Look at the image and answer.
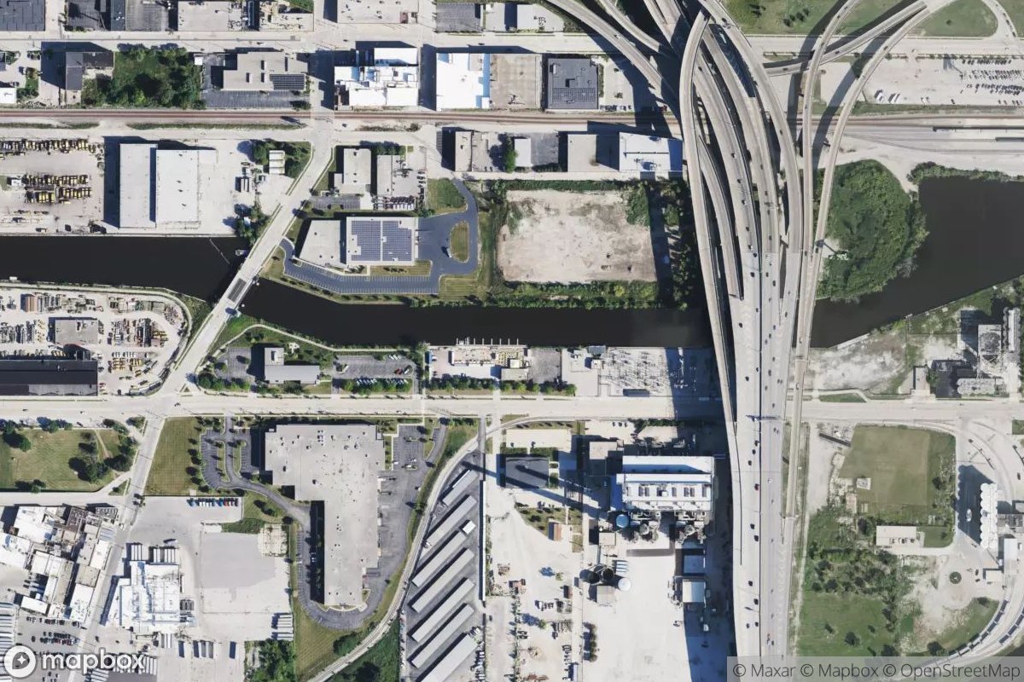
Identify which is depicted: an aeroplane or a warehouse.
warehouse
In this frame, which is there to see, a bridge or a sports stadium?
bridge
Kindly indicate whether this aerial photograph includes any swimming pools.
No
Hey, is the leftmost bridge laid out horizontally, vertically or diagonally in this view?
diagonally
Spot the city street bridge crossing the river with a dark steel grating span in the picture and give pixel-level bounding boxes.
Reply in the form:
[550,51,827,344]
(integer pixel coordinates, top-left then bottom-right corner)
[212,246,272,320]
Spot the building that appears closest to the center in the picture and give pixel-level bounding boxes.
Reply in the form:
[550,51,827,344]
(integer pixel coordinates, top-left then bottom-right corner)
[502,359,528,382]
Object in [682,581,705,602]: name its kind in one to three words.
shed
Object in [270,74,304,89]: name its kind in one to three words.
solar panel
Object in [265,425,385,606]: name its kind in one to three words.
warehouse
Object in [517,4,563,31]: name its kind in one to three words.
building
